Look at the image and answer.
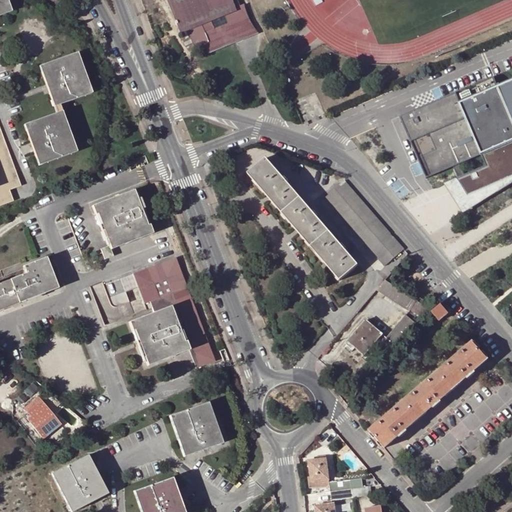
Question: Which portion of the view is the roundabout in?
bottom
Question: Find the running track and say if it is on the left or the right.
right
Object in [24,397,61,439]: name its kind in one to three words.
house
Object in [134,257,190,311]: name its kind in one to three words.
building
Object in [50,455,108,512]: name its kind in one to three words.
building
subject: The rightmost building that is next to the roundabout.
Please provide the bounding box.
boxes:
[367,339,486,446]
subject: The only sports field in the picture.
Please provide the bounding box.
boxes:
[362,0,496,45]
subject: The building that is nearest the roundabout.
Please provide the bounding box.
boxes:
[306,456,329,488]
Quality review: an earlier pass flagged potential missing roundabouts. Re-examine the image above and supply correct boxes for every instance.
[251,367,330,449]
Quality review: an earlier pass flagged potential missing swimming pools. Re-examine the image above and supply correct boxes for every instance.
[338,448,366,473]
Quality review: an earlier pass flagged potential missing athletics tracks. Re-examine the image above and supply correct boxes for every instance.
[294,0,512,64]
